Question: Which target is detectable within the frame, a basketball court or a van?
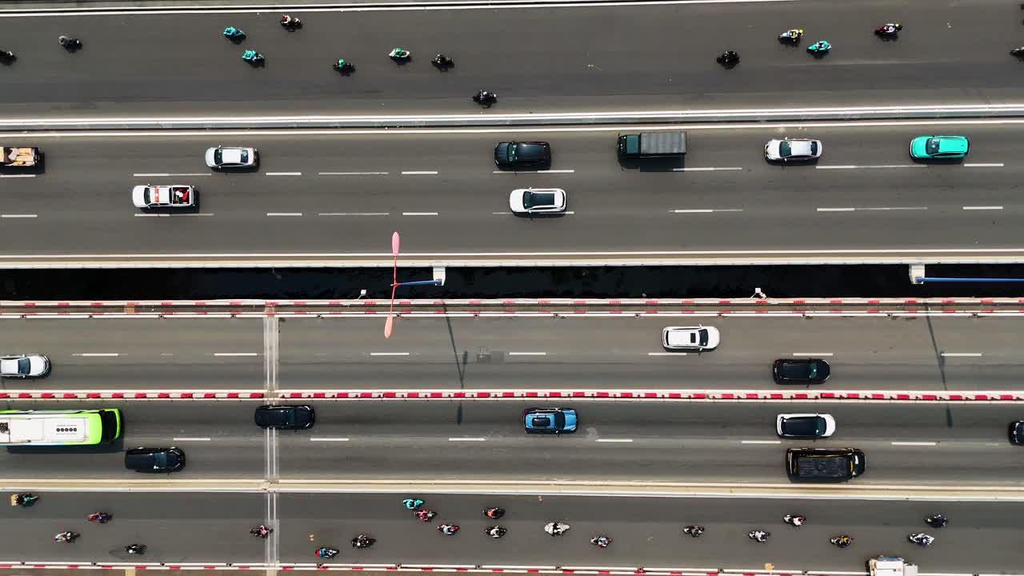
van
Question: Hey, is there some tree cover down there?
No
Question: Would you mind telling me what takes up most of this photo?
paved ground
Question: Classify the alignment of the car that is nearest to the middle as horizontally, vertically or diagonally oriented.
horizontally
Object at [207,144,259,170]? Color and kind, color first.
white car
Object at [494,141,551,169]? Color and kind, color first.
black car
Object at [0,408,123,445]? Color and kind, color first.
white bus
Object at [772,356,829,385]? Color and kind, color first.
black car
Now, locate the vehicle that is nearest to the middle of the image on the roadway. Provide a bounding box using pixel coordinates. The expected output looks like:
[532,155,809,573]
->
[510,186,566,214]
